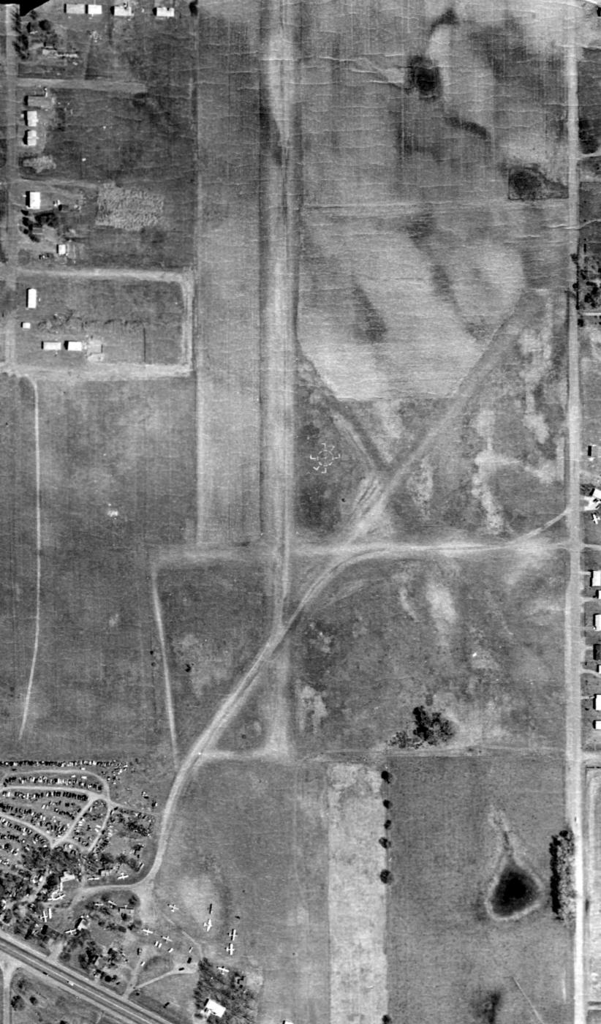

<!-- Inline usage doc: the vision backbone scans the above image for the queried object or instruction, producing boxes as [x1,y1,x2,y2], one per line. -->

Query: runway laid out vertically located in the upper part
[261,0,298,628]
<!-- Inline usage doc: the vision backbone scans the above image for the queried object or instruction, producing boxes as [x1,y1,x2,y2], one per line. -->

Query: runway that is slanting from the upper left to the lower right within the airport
[297,353,388,478]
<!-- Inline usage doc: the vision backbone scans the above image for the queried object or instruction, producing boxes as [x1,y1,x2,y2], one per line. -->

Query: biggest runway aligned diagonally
[339,286,536,550]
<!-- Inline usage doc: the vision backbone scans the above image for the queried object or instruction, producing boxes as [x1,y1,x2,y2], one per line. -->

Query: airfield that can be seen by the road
[138,0,570,925]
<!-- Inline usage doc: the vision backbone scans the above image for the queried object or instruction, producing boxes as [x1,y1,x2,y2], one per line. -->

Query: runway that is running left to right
[146,538,570,561]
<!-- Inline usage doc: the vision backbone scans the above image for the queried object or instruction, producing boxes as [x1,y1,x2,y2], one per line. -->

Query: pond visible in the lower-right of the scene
[490,853,540,916]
